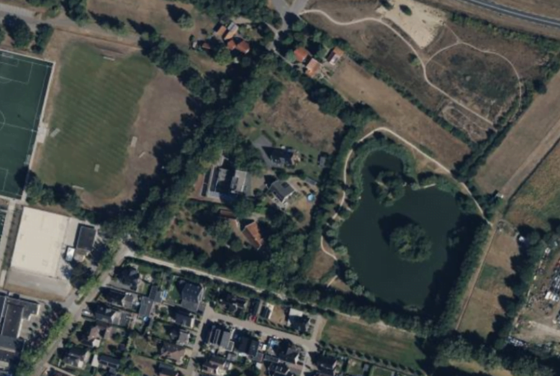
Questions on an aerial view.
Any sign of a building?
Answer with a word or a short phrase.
Yes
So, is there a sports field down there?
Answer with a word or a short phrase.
Yes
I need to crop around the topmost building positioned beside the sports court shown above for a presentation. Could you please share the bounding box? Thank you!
[76,225,97,251]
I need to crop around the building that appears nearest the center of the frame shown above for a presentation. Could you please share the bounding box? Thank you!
[271,180,295,203]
